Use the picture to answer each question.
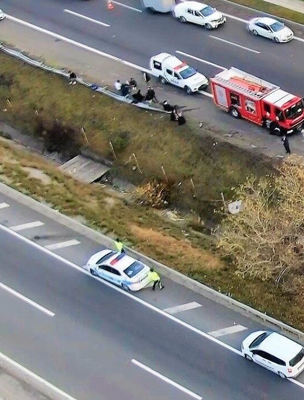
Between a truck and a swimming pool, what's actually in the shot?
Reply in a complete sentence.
There is a truck in the scene.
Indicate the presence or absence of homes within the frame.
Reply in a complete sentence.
No, the frame has no home in it.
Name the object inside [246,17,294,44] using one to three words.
car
